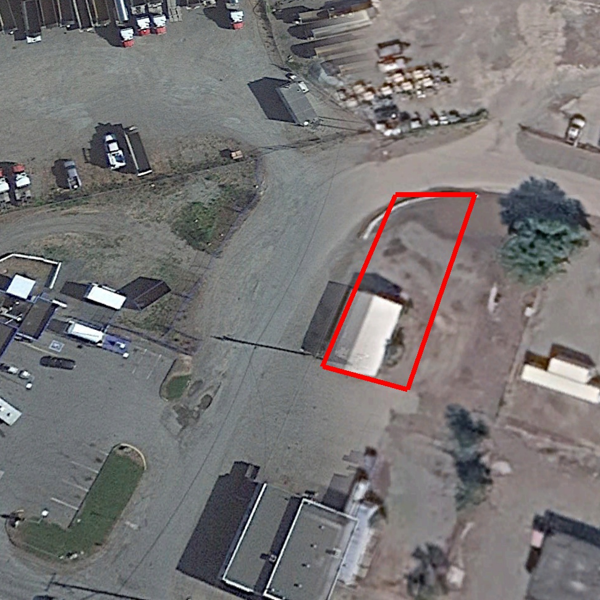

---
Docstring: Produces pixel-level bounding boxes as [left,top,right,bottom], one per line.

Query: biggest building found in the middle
[325,293,402,375]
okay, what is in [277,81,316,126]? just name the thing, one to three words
building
